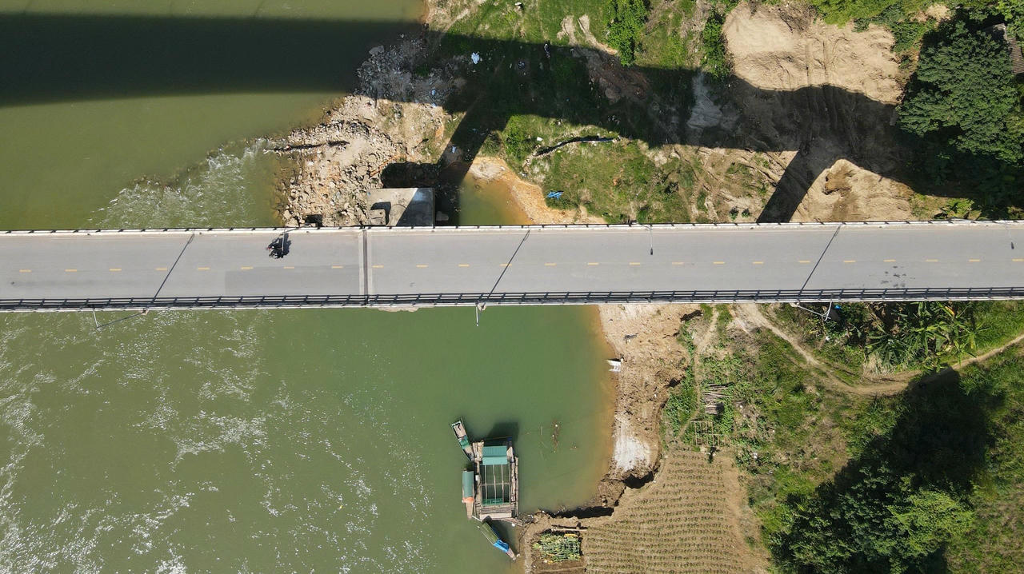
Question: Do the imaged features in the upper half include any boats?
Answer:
No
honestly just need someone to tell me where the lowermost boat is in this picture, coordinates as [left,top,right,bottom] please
[479,521,516,561]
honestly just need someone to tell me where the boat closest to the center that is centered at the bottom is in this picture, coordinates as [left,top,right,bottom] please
[453,421,473,461]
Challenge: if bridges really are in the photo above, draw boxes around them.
[0,188,1024,312]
